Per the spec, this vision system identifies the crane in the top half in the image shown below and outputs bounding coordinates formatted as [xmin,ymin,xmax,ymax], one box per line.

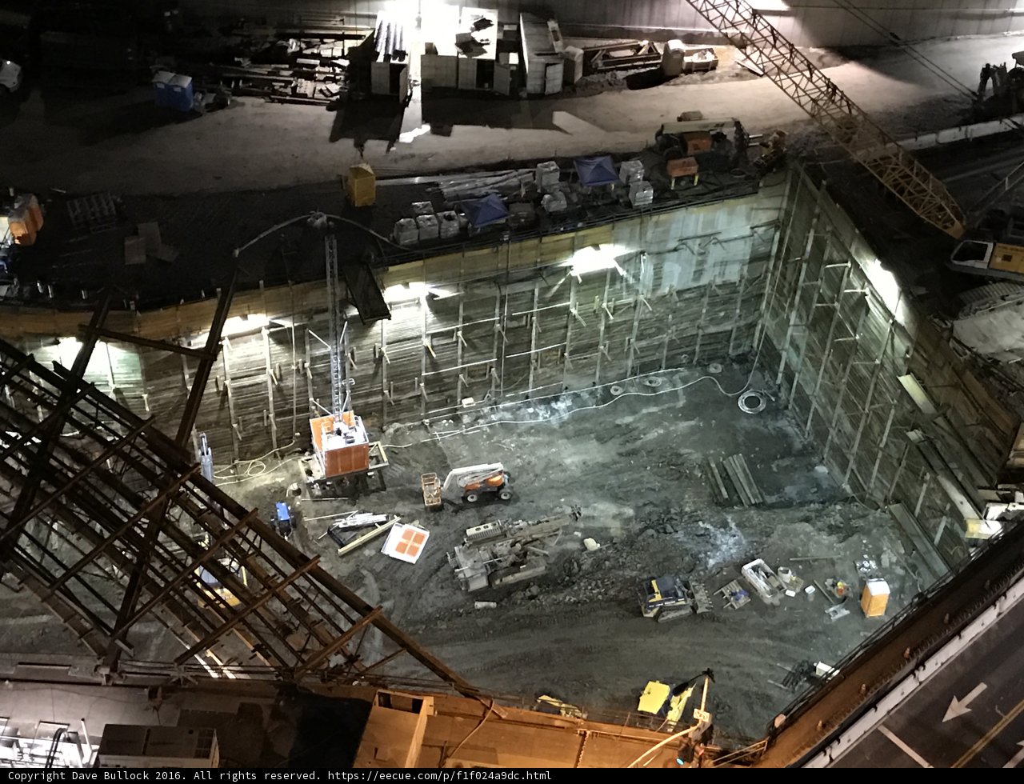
[683,0,1024,329]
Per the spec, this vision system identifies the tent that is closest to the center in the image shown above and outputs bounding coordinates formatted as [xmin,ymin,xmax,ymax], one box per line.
[462,198,510,254]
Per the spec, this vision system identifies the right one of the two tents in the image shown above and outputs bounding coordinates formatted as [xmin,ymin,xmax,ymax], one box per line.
[572,156,619,208]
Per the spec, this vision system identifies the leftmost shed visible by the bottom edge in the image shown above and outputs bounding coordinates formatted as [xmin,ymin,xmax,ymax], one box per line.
[355,690,440,784]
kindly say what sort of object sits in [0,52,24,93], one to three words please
truck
